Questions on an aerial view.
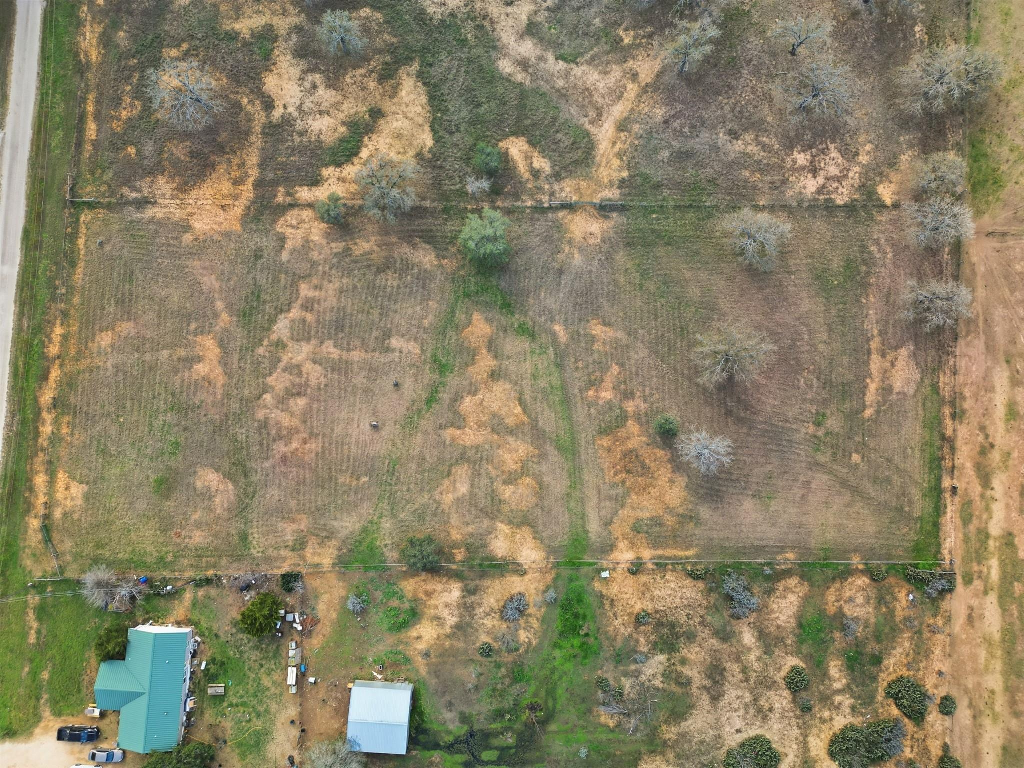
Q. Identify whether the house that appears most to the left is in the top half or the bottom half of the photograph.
bottom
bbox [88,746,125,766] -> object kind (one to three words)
car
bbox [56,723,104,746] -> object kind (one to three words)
truck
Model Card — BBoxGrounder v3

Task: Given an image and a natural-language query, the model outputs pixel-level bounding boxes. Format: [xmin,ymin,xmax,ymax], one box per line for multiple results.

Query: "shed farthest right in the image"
[348,672,414,754]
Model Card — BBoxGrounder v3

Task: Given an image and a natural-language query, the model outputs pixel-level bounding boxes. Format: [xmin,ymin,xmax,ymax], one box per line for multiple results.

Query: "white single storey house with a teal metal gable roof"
[94,623,193,755]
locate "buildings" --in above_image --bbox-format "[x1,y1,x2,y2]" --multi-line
[348,672,414,754]
[94,623,193,755]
